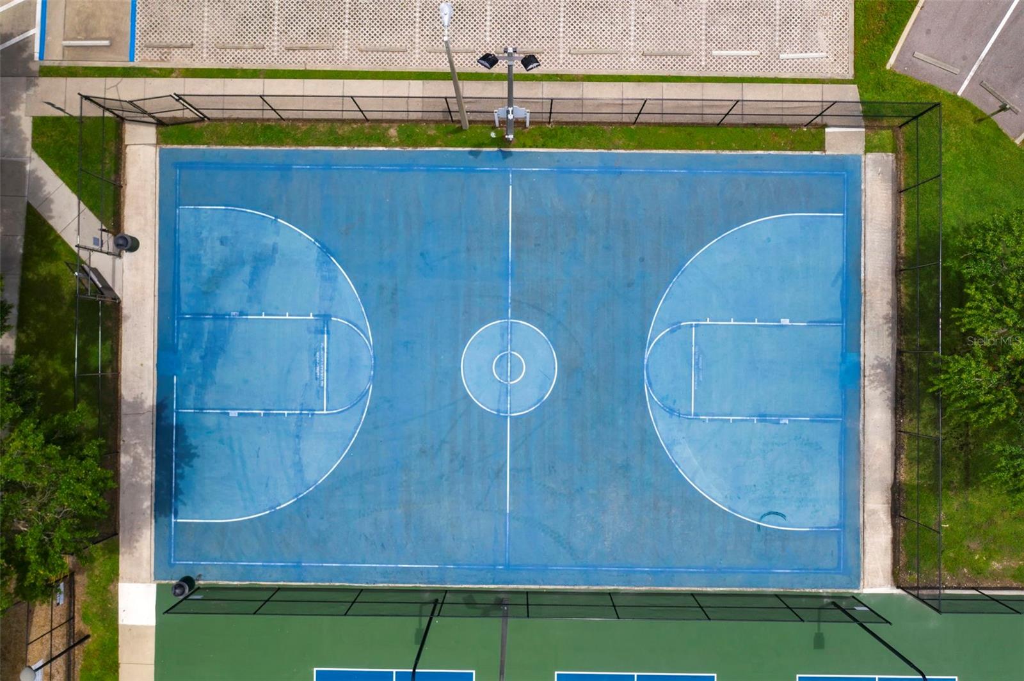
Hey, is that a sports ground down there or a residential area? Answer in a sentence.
This looks like a sports ground.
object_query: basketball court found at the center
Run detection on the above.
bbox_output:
[151,144,865,593]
